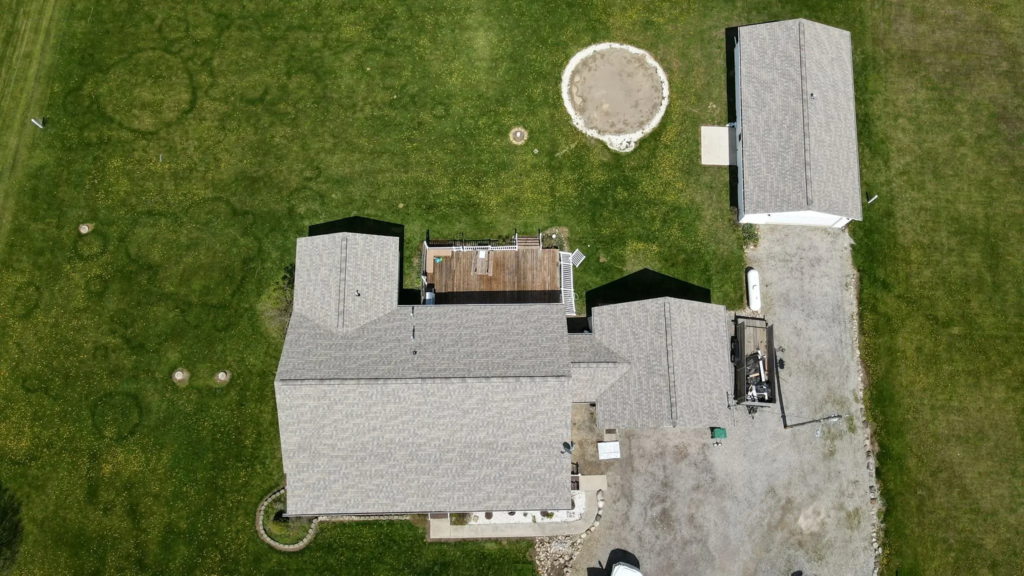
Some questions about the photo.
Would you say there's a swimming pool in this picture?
No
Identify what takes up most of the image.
grass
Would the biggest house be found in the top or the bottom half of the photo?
bottom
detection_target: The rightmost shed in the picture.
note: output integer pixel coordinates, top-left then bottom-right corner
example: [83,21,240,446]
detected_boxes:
[734,19,863,229]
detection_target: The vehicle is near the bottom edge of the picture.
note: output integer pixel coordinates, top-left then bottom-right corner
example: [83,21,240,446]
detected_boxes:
[607,555,644,576]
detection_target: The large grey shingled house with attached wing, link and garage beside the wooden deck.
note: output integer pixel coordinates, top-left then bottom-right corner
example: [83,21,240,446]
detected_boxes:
[275,232,738,520]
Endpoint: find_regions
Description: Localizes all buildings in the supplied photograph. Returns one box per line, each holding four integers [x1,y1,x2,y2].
[275,232,738,520]
[734,19,863,229]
